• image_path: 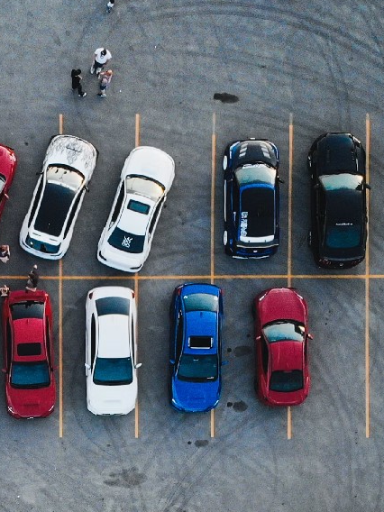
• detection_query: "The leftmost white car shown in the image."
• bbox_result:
[21,135,97,262]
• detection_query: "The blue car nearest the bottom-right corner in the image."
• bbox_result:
[168,282,231,414]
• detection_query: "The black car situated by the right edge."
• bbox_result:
[305,132,374,271]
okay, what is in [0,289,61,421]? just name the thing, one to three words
car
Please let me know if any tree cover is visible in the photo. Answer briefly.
No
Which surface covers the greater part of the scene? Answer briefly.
paved ground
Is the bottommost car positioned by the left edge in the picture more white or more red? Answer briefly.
red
